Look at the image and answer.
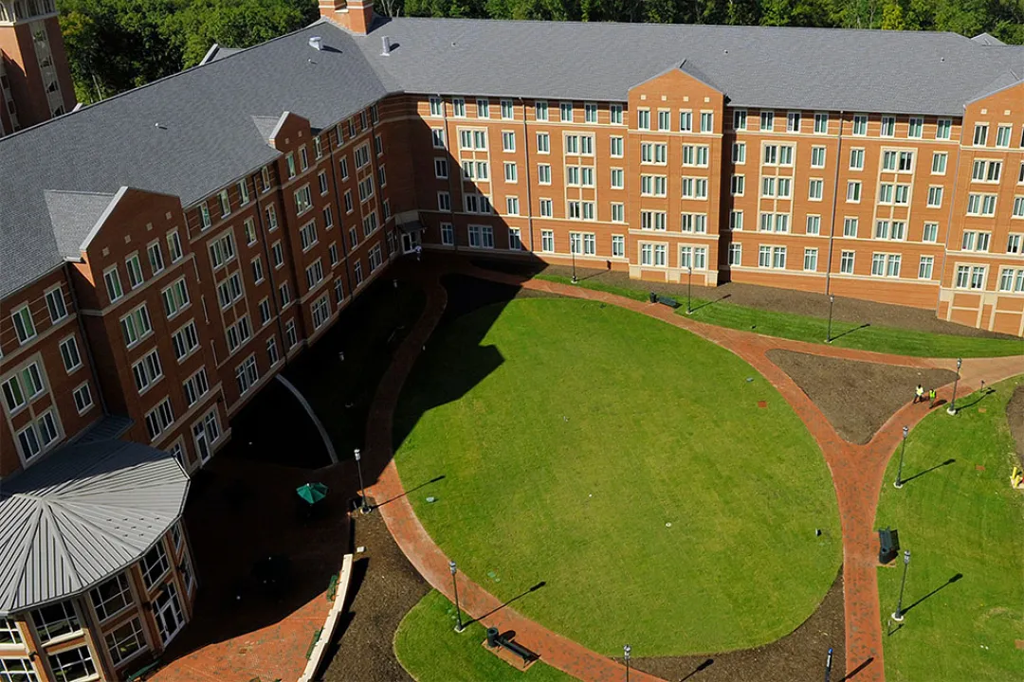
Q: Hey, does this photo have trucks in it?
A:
No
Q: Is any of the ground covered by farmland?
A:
No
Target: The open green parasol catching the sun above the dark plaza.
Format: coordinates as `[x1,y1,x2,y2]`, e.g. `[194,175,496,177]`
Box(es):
[289,479,324,507]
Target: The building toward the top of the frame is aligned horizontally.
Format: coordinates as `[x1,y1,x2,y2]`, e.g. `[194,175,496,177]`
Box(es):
[0,0,1024,480]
